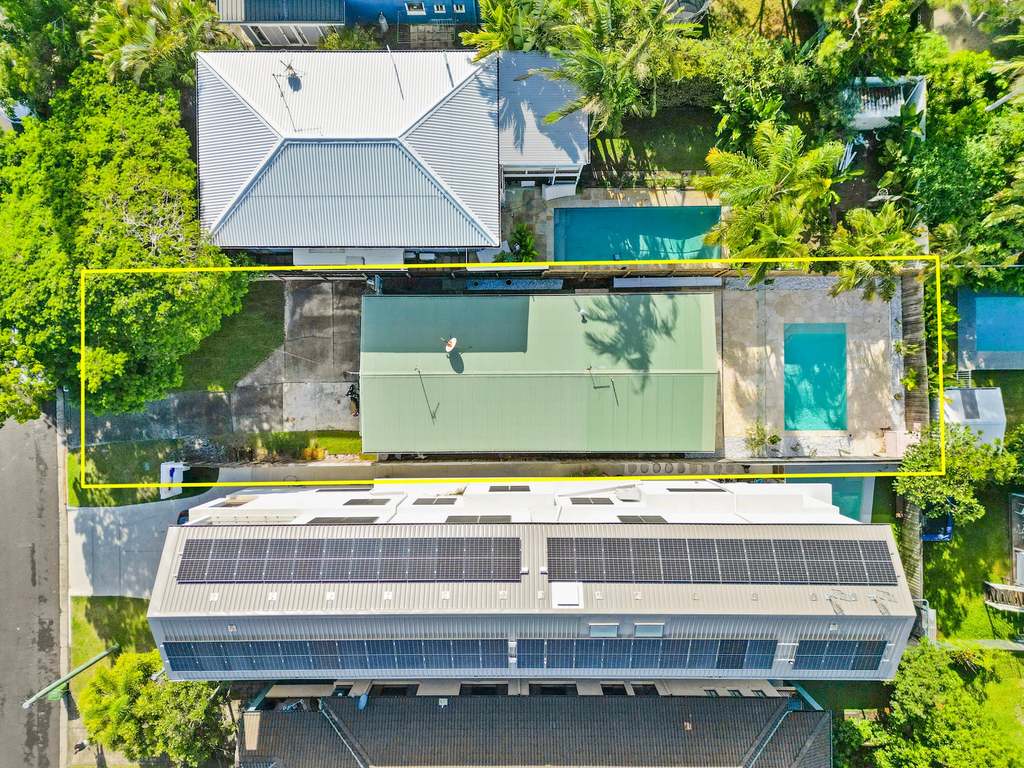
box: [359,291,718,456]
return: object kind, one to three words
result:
building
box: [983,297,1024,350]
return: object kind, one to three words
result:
swimming pool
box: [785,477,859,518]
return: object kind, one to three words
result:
swimming pool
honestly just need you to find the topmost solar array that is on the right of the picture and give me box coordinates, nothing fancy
[547,538,902,581]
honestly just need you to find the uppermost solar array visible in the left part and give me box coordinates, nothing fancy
[171,538,521,581]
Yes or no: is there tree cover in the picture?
Yes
